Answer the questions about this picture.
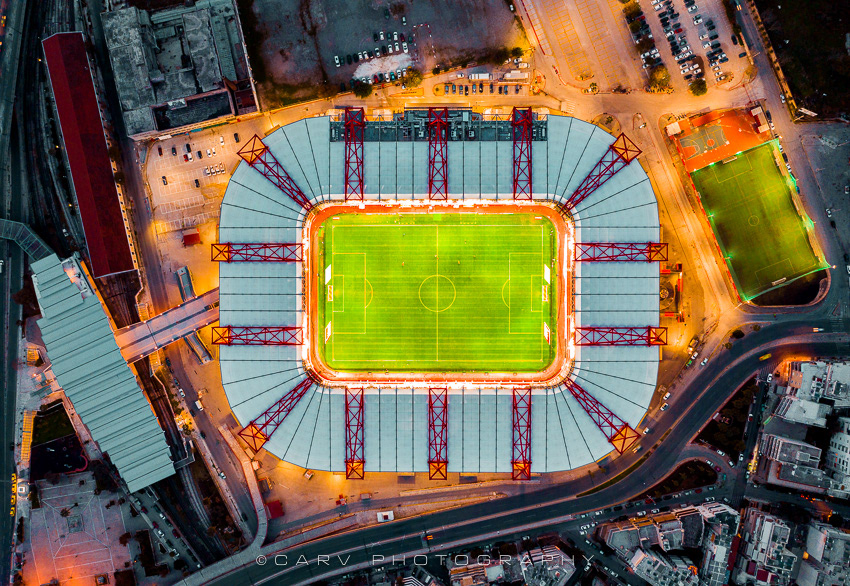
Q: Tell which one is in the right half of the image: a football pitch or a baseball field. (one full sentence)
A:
Looking in the right half of the image, you will find a football pitch.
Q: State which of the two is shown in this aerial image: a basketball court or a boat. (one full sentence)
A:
The image shows a basketball court.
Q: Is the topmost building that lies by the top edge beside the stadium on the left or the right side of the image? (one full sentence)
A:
The topmost building that lies by the top edge beside the stadium is on the left side of the image.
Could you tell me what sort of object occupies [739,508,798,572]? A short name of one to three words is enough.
building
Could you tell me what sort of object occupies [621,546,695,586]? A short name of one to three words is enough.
building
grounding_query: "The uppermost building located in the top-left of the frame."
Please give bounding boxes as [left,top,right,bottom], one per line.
[100,0,267,142]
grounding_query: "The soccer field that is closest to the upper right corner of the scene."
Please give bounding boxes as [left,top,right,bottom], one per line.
[690,140,829,300]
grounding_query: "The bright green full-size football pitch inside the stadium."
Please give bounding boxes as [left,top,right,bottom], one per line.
[319,213,556,373]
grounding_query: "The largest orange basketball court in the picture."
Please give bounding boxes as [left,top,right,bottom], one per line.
[667,103,772,172]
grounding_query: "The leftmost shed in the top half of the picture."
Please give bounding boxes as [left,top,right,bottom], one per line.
[42,32,149,279]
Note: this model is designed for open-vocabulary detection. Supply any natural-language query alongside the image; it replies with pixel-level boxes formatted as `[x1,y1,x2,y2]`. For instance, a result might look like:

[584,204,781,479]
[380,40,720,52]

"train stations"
[30,249,177,493]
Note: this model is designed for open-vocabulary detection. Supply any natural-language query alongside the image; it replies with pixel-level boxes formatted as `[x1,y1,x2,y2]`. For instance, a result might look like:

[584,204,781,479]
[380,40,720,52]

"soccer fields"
[690,140,829,300]
[319,213,556,373]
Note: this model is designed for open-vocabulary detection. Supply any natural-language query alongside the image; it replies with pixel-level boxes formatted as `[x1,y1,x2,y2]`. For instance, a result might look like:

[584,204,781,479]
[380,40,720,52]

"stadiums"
[210,106,667,480]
